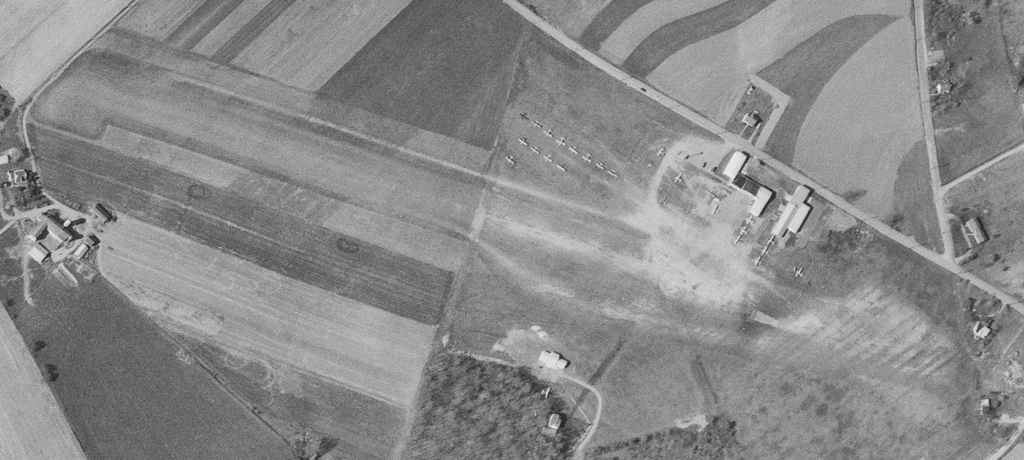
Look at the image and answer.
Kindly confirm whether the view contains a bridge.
No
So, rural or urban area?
rural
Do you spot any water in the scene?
No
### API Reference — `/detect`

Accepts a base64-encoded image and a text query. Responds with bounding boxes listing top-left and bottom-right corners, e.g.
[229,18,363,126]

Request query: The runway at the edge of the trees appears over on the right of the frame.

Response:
[443,182,795,352]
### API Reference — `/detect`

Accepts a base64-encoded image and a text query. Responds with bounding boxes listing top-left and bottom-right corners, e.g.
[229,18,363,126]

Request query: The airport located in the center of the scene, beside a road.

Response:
[34,29,795,352]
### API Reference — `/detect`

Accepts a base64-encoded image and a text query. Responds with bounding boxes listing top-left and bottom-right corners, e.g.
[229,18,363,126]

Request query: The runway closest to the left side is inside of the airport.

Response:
[34,52,486,240]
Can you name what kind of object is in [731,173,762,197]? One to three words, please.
building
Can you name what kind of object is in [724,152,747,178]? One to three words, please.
hangar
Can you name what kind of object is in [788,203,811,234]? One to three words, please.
hangar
